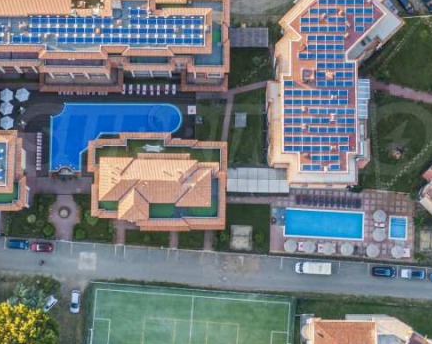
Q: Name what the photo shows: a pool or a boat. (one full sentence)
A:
Looking from above, you can make out a pool.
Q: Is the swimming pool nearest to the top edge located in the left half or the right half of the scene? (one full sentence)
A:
You can find the swimming pool nearest to the top edge on the left side of the picture.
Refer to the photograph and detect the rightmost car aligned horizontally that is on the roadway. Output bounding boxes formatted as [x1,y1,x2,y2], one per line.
[400,268,426,281]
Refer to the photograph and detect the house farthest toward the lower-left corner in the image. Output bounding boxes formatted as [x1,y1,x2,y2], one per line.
[88,134,227,231]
